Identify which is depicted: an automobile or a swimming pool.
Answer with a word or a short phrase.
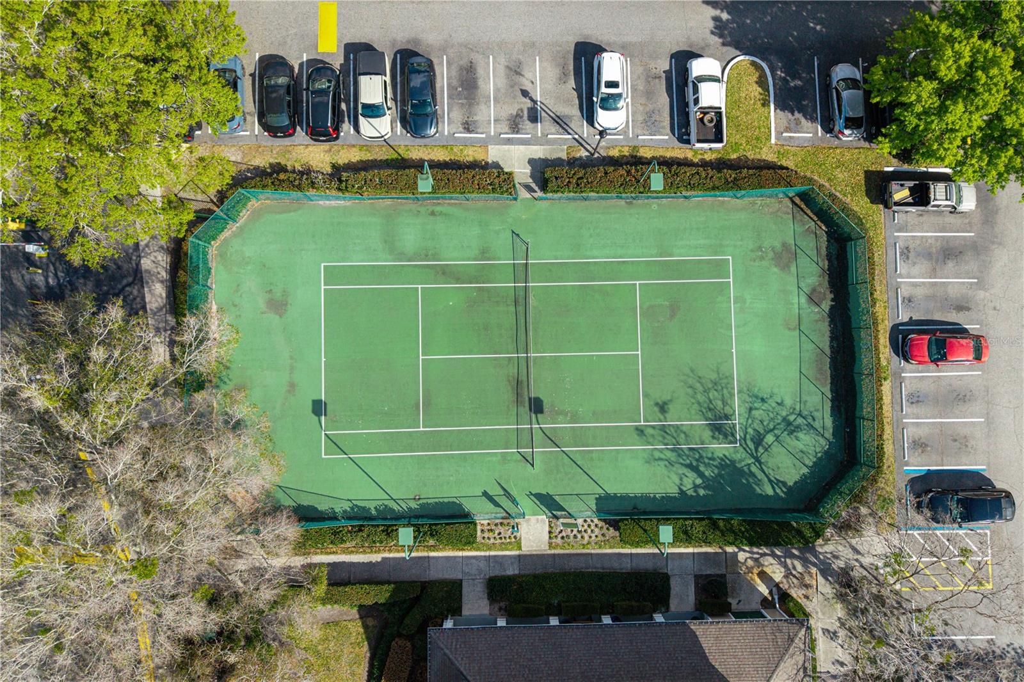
automobile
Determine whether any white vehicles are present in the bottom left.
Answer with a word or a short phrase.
No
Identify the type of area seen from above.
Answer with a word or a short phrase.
sports ground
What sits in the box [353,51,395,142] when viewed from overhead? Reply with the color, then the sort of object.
white truck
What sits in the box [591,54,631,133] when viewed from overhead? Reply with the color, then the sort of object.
white car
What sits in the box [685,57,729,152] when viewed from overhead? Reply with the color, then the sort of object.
white truck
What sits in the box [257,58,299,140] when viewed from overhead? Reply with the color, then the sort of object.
black car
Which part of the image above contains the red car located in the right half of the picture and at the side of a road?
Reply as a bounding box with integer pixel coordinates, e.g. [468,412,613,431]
[901,330,988,369]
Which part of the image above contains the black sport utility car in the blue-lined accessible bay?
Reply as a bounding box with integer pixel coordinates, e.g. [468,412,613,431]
[914,484,1007,528]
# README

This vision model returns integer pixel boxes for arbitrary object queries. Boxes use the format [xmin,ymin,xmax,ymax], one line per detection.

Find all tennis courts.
[215,198,842,516]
